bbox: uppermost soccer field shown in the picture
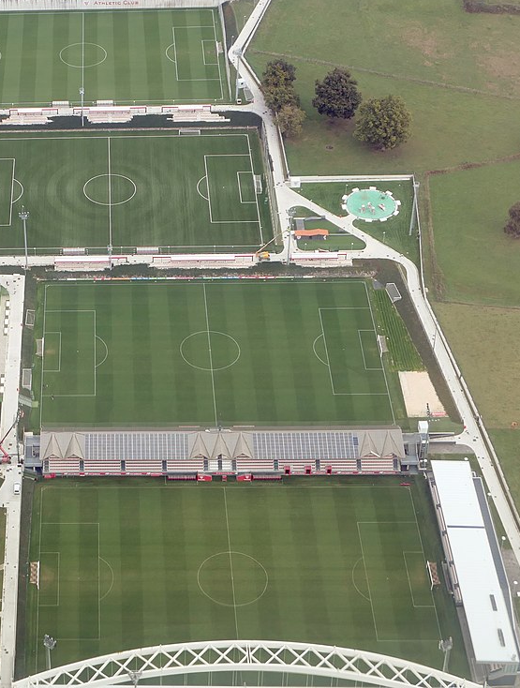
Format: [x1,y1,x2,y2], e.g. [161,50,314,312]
[0,6,231,105]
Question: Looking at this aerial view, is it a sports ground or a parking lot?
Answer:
sports ground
